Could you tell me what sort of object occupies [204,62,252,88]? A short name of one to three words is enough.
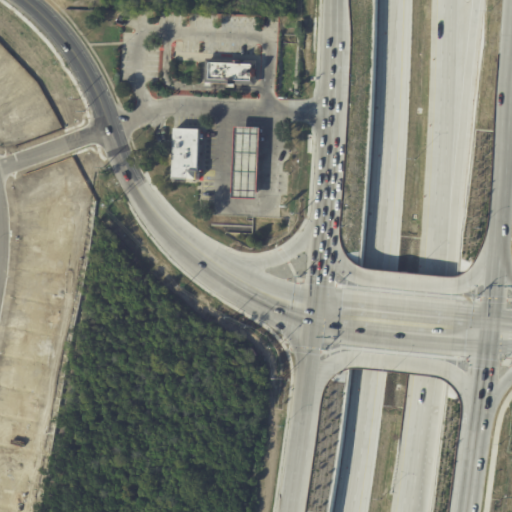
building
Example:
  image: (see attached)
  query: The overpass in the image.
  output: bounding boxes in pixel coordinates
[320,229,512,410]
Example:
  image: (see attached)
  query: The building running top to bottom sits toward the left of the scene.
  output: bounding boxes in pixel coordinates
[172,128,198,186]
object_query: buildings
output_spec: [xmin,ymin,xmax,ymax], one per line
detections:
[172,128,198,186]
[204,62,252,88]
